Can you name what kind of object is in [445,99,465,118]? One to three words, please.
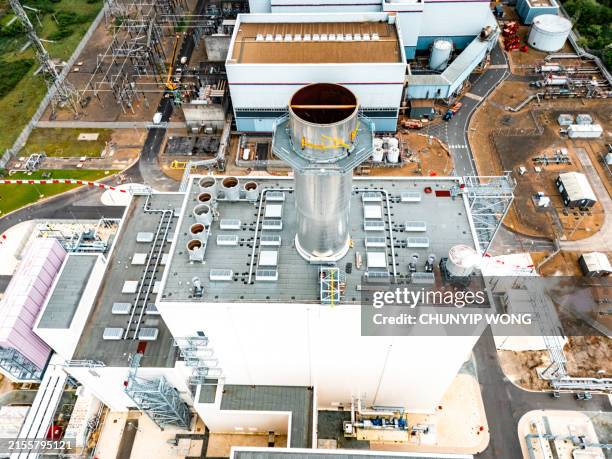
vehicle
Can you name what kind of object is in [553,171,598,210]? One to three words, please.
shed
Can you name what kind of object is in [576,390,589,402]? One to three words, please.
vehicle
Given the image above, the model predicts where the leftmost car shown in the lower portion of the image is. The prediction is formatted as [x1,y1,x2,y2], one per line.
[549,380,566,402]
